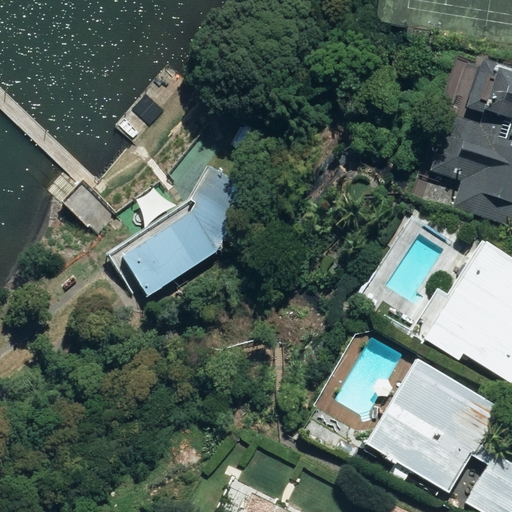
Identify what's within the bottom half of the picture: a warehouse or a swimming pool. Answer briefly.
swimming pool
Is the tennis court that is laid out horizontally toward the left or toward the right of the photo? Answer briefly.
right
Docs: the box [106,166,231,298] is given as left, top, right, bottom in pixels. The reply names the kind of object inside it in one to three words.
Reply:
house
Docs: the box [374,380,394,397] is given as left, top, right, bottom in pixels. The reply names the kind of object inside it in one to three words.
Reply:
umbrella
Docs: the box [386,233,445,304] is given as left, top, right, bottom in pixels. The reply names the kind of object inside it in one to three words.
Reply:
swimming pool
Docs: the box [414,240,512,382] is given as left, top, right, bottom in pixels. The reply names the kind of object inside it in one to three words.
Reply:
house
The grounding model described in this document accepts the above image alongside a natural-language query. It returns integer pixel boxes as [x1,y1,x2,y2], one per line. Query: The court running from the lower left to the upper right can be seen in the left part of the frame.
[171,137,214,200]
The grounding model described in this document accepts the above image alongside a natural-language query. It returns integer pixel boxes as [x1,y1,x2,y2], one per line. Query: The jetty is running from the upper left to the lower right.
[0,85,97,184]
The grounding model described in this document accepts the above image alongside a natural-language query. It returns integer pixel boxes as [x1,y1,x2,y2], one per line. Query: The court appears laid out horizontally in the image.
[379,0,512,41]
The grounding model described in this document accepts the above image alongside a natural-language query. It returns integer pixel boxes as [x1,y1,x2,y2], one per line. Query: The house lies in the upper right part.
[431,54,512,226]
